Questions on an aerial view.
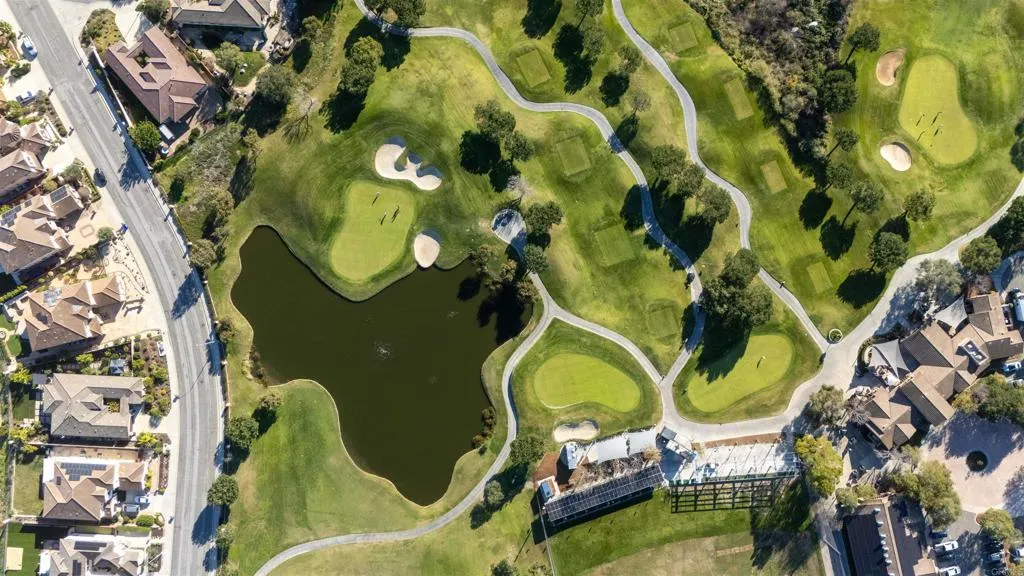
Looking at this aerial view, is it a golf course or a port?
golf course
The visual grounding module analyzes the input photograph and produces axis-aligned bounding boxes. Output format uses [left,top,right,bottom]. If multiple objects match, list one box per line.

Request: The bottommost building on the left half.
[49,538,143,576]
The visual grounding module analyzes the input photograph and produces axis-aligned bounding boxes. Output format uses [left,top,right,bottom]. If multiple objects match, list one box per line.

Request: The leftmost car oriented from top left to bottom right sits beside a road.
[19,36,37,57]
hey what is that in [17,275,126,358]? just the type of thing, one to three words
house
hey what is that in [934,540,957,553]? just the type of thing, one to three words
vehicle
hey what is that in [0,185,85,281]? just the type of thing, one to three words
house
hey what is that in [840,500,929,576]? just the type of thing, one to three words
building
